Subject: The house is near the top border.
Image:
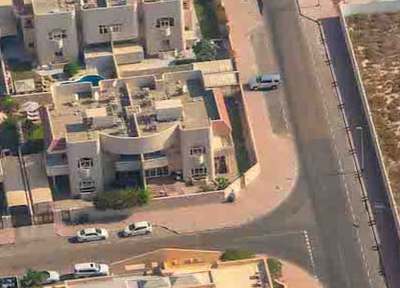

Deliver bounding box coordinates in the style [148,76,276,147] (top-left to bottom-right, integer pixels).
[28,0,204,84]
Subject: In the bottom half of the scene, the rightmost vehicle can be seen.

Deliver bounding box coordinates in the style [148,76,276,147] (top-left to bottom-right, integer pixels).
[119,218,153,236]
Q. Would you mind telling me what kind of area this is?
residential area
